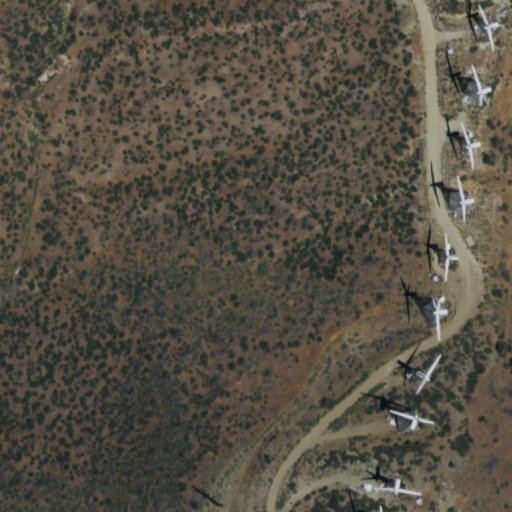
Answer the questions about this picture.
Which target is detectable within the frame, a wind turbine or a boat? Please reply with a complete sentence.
It is a wind turbine that can be seen here.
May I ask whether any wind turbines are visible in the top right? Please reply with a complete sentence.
Yes, a wind turbine shows up in the top right.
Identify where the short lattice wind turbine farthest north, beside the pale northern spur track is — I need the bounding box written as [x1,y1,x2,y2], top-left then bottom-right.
[478,4,500,49]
